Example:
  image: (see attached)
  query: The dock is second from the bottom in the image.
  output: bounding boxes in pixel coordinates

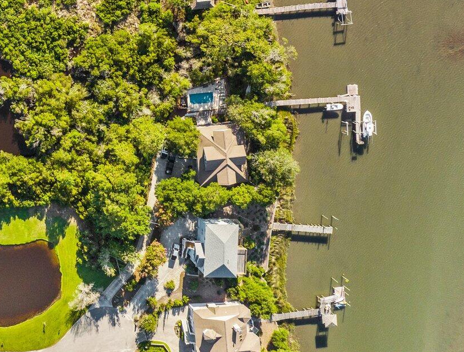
[273,221,334,235]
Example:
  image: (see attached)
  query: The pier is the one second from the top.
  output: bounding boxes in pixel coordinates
[266,84,363,145]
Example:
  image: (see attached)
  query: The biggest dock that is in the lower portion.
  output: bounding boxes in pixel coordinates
[264,285,345,323]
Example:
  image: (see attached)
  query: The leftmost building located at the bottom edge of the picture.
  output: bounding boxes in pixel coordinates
[179,291,277,352]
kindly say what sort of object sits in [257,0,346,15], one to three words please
pier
